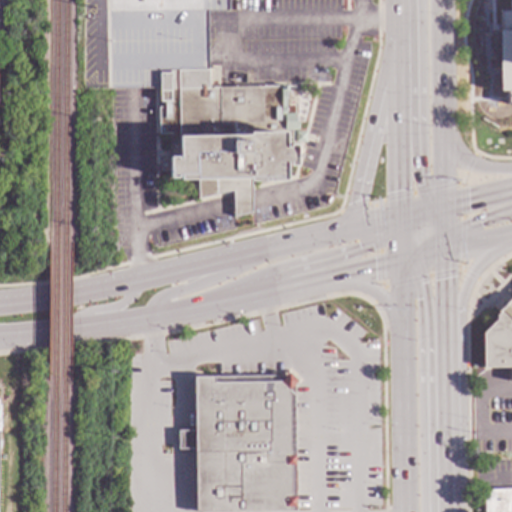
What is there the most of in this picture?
paved ground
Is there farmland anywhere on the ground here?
No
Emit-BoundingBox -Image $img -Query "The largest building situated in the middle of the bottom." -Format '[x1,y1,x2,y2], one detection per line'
[194,374,300,510]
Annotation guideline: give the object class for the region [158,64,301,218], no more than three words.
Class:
building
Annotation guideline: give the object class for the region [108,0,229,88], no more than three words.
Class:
building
